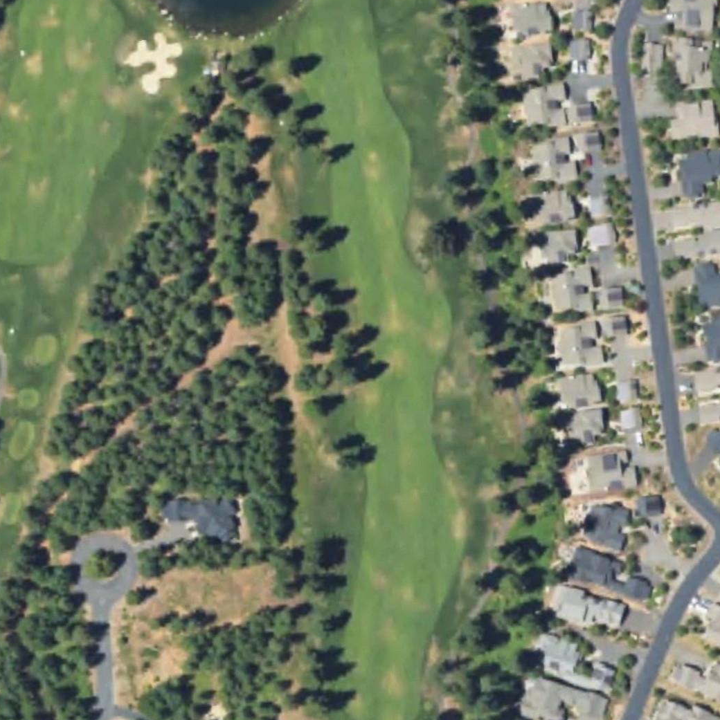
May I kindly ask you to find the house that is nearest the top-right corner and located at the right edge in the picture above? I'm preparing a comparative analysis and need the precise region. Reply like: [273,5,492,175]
[668,0,718,34]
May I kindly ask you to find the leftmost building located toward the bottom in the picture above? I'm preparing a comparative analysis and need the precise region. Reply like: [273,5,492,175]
[163,493,237,541]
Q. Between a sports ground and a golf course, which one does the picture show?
golf course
